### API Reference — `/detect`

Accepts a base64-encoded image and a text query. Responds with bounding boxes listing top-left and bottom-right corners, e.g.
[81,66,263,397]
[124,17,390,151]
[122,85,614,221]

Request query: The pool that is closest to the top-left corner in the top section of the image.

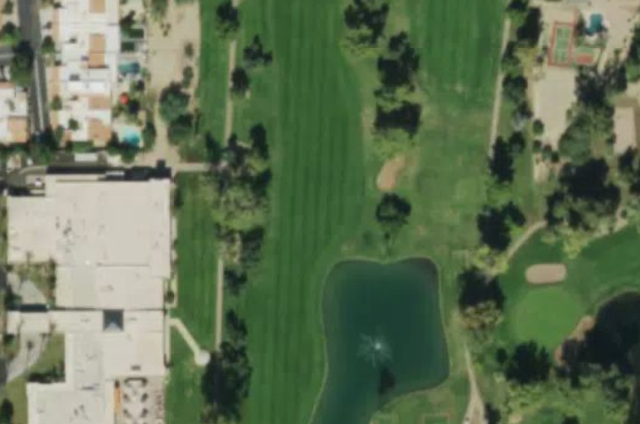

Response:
[118,61,139,74]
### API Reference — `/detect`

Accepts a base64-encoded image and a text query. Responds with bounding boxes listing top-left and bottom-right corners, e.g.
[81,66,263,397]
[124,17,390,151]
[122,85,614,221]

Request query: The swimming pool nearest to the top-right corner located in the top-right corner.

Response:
[585,13,604,35]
